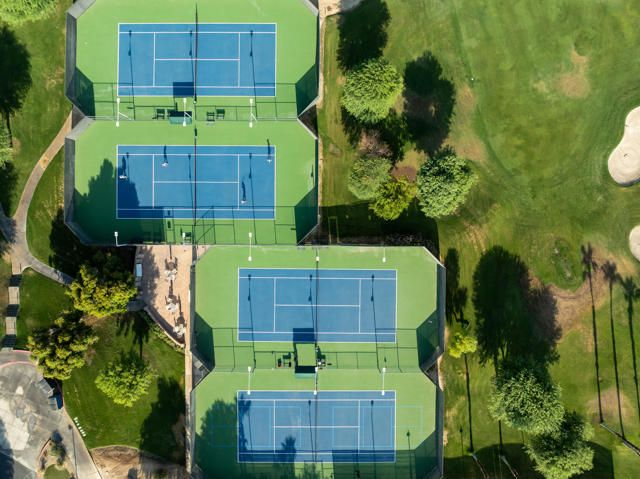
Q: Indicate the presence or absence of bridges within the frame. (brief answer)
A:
No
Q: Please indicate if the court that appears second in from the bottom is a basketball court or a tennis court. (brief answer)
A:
tennis court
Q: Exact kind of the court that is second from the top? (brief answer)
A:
tennis court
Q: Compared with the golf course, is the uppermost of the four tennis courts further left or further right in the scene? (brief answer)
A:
on its left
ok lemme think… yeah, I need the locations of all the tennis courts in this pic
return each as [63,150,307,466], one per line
[195,366,438,479]
[75,120,317,243]
[76,0,318,120]
[196,245,438,366]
